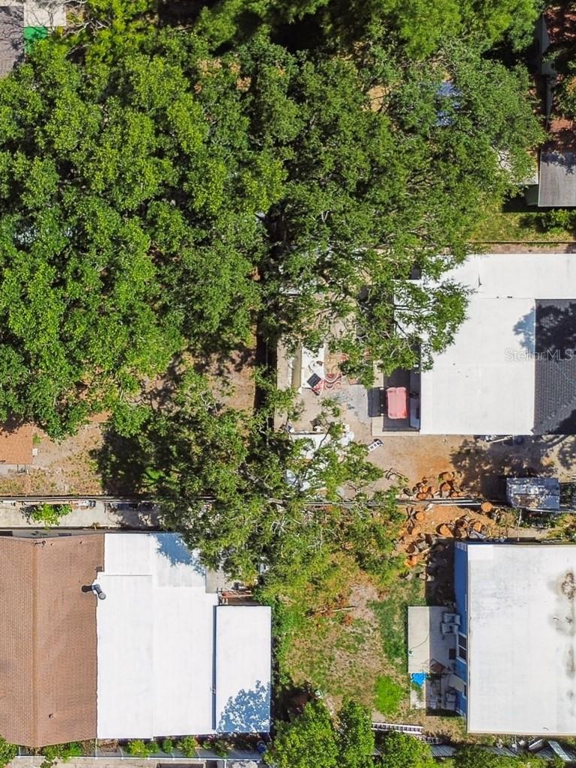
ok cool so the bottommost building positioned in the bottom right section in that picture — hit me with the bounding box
[443,537,576,738]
